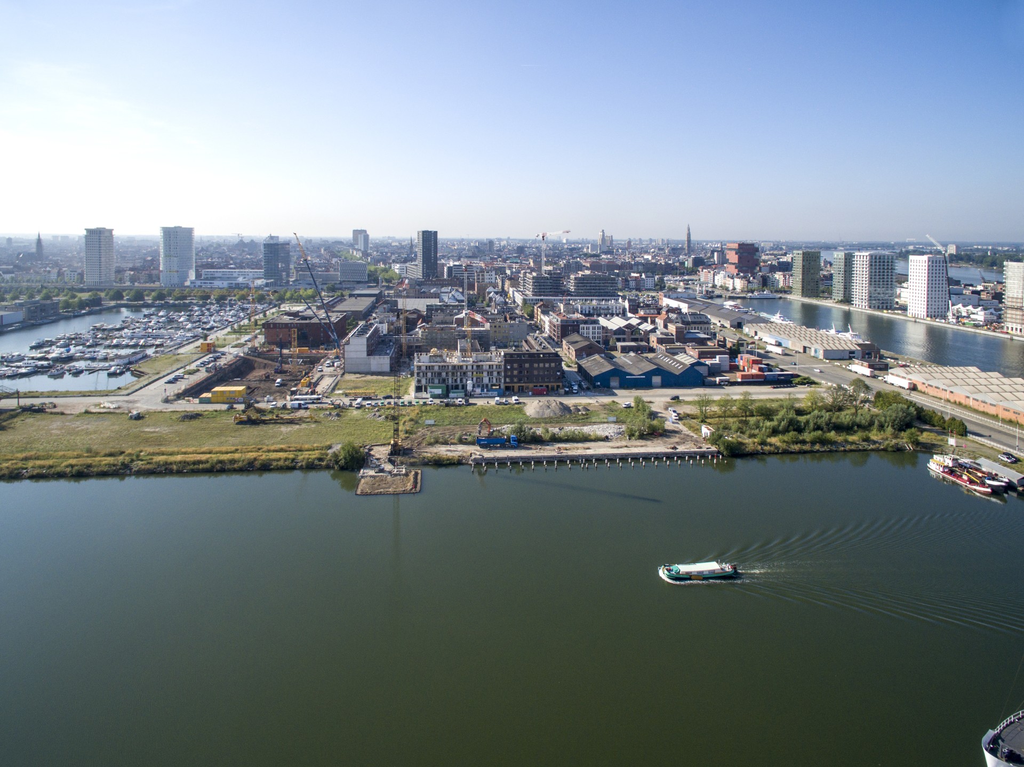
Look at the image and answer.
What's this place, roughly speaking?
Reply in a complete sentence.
The picture captures a port.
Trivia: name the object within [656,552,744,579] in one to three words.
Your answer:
vessel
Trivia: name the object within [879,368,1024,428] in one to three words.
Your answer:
building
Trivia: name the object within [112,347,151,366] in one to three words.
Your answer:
boat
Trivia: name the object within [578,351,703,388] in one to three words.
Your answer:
building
